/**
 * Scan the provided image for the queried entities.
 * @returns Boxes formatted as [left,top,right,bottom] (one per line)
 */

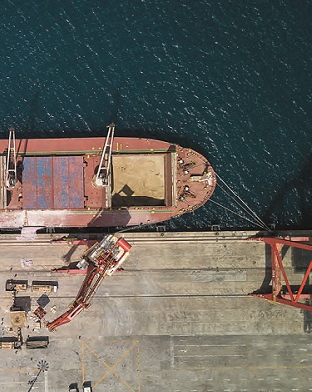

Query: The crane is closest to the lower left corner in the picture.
[35,229,136,333]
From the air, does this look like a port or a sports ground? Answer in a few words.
port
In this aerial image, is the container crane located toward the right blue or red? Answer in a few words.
red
